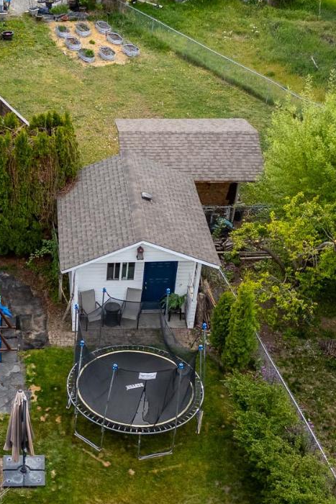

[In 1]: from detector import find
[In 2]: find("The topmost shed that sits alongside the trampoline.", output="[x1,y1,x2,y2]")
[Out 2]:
[110,107,262,228]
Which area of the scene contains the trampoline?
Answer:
bottom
